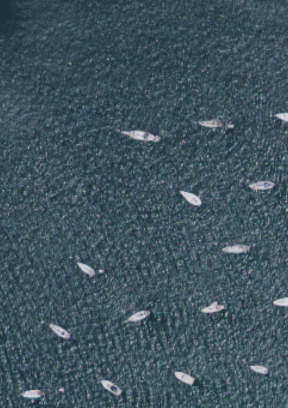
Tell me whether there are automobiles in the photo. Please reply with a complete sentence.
No, the photo shows no automobile.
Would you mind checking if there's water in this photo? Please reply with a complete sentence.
Yes, the picture does contain water.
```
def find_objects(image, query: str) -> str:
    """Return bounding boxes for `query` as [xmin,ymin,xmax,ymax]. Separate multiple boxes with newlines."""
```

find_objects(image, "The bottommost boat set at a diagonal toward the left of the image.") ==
[101,380,122,396]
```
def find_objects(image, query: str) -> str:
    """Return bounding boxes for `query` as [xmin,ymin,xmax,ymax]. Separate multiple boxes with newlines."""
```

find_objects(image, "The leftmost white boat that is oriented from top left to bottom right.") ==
[49,324,70,339]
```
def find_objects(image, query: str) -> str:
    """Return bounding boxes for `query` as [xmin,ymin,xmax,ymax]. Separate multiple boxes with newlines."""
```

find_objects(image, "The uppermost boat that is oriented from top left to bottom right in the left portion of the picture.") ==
[77,262,96,276]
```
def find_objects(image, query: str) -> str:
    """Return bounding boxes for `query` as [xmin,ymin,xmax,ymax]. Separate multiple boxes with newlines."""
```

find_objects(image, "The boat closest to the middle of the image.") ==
[180,191,202,206]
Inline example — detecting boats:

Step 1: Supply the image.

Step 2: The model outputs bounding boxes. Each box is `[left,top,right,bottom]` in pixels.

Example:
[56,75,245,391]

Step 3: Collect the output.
[22,390,44,398]
[274,112,288,121]
[180,191,202,206]
[174,372,194,386]
[201,304,224,312]
[250,366,268,375]
[222,246,251,253]
[248,182,274,189]
[198,120,220,127]
[49,324,70,339]
[122,131,160,142]
[124,310,150,322]
[77,262,96,276]
[101,380,122,396]
[273,298,288,306]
